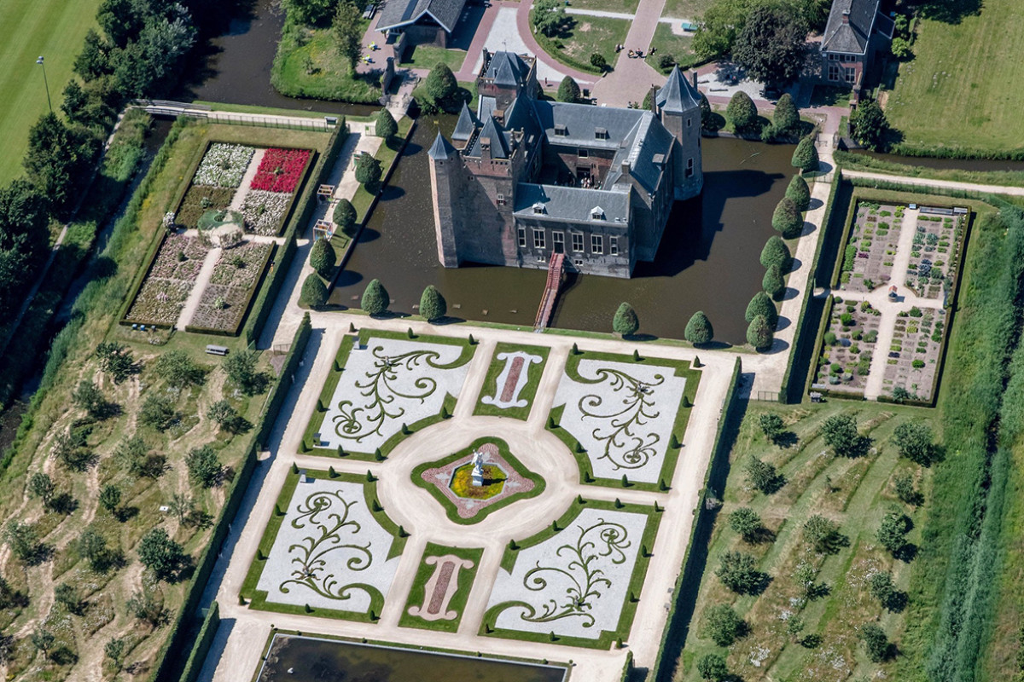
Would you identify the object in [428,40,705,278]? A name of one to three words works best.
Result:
building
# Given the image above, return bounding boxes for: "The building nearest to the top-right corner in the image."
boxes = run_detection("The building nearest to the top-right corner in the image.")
[819,0,900,88]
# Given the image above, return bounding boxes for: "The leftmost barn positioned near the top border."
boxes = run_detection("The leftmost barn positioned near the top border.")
[381,0,466,49]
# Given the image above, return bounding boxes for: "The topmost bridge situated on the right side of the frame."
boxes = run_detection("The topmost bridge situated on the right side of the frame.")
[818,128,846,157]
